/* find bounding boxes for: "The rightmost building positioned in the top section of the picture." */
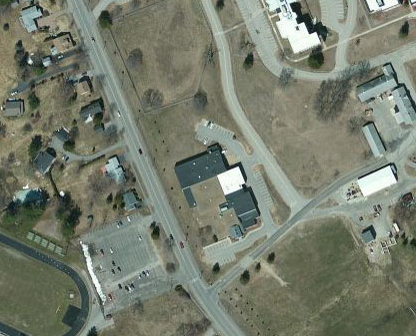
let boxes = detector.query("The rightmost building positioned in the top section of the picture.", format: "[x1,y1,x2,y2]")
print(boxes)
[388,83,416,122]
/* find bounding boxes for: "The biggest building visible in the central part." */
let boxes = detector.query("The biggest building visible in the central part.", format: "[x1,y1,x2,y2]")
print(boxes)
[175,144,259,229]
